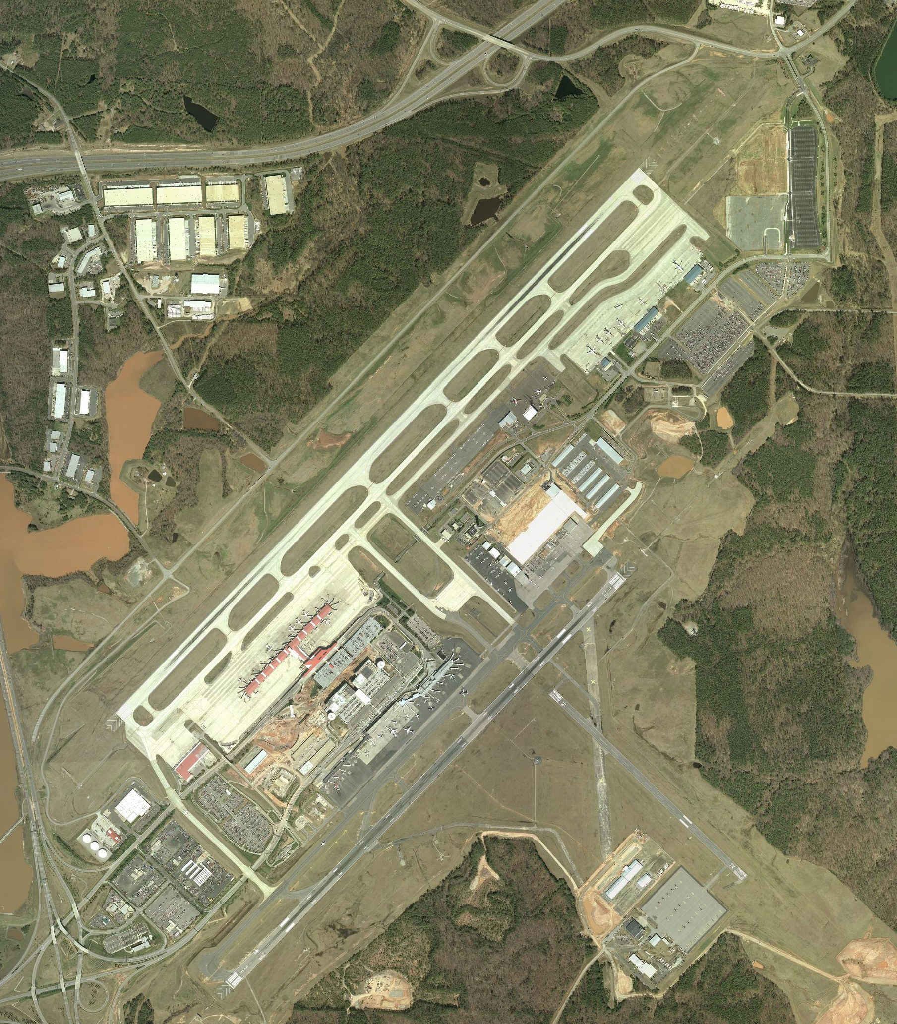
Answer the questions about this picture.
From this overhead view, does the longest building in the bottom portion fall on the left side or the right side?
left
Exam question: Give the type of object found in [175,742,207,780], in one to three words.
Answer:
hangar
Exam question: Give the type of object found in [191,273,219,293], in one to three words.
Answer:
building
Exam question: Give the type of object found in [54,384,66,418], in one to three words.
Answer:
building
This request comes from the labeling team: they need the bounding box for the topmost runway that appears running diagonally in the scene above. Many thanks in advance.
[116,168,647,721]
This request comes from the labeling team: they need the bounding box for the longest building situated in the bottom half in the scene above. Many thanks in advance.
[237,594,339,702]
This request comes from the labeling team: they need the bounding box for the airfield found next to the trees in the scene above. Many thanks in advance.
[107,163,747,998]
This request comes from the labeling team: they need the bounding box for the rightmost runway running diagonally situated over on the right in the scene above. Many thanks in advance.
[549,689,747,881]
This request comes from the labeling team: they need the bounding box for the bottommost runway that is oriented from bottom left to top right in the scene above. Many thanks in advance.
[226,572,626,989]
